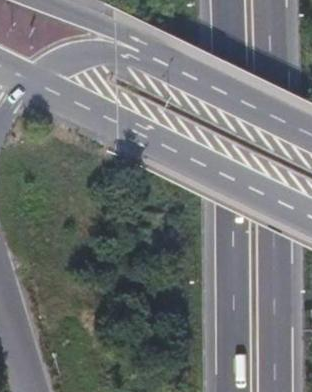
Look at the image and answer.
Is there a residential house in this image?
No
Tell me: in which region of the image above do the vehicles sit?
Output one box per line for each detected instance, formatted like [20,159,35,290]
[234,212,244,222]
[6,84,26,104]
[235,352,246,386]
